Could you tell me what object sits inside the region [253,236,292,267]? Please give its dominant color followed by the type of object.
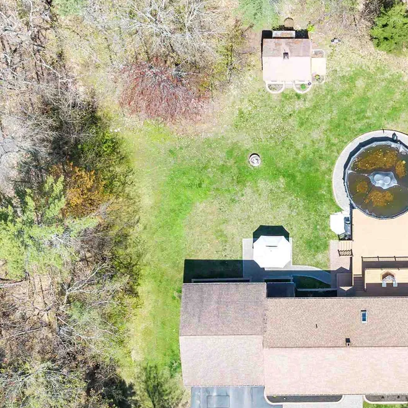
white gazebo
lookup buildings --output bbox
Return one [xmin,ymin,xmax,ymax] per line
[179,281,408,396]
[262,31,310,86]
